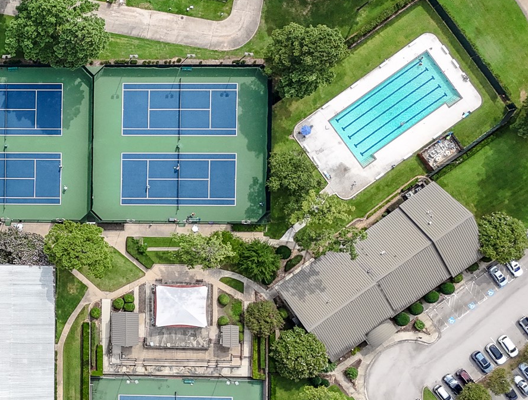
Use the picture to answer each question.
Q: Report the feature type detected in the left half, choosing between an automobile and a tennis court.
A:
tennis court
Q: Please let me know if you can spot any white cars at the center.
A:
No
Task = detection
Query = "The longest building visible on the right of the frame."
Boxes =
[275,182,482,360]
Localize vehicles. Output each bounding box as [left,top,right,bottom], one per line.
[442,373,463,395]
[517,314,528,337]
[485,343,504,364]
[497,335,517,357]
[513,374,528,396]
[488,265,507,287]
[471,350,490,373]
[504,258,523,280]
[433,383,451,400]
[504,386,518,400]
[454,365,473,387]
[517,362,528,382]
